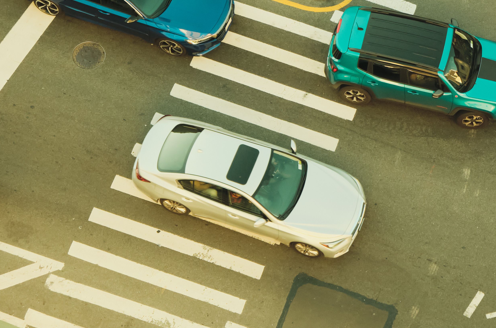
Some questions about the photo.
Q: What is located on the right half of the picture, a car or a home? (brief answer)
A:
car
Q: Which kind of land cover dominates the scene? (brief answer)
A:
paved ground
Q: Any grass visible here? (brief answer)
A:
No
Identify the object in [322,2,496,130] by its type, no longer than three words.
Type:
car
